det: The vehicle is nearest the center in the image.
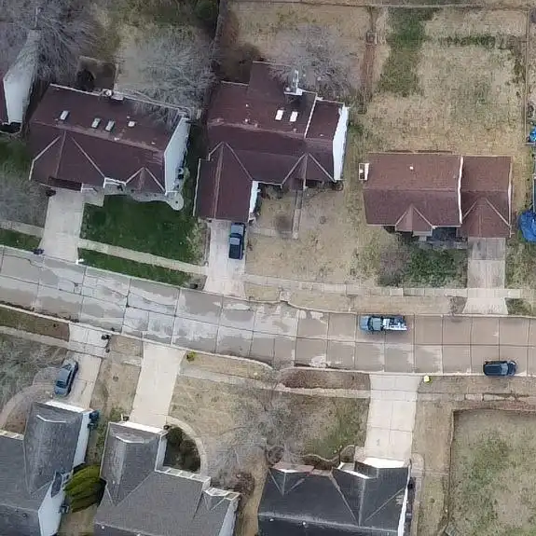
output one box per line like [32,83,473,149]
[227,221,248,260]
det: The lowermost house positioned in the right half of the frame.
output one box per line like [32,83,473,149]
[256,459,412,536]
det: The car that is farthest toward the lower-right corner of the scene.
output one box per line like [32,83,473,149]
[484,360,516,376]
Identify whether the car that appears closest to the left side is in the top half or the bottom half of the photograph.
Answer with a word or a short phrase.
bottom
